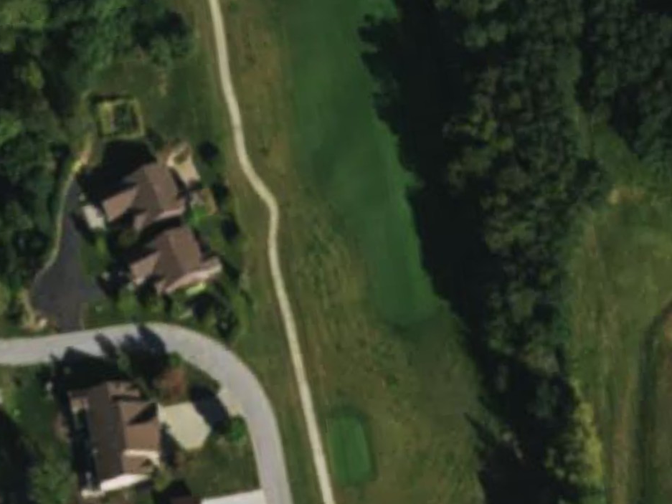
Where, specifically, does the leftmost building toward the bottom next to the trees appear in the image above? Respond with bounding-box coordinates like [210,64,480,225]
[73,384,164,487]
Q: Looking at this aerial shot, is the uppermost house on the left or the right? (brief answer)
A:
left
